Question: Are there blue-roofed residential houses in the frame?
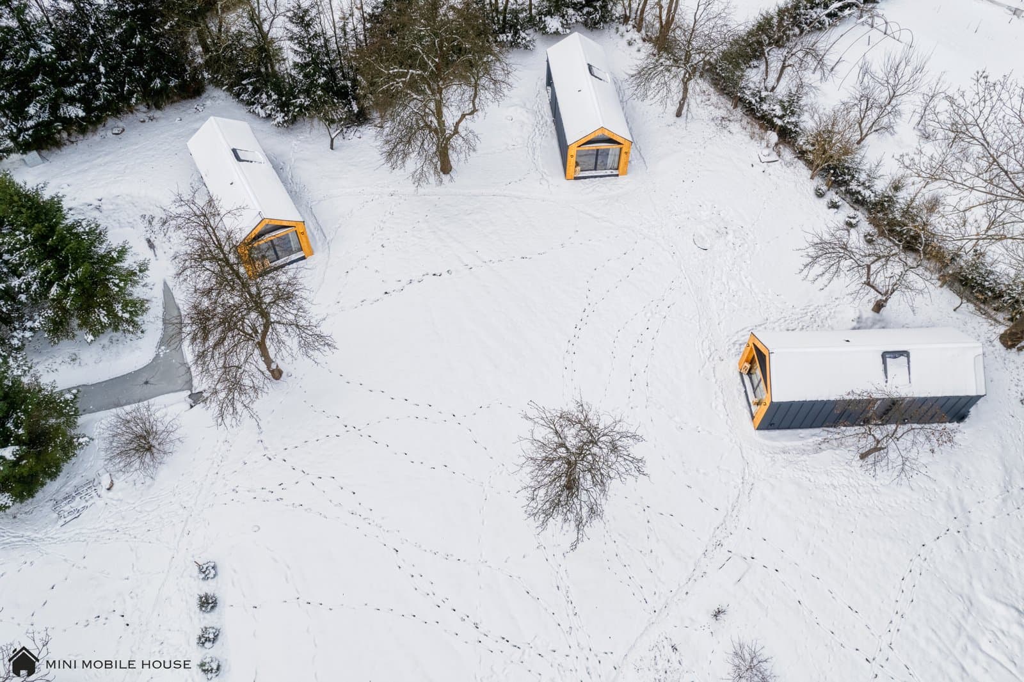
No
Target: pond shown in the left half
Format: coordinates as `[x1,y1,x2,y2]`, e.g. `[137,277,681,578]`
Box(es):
[37,284,196,420]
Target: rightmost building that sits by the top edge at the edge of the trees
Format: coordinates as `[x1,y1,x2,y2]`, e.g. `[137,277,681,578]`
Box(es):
[544,32,632,181]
